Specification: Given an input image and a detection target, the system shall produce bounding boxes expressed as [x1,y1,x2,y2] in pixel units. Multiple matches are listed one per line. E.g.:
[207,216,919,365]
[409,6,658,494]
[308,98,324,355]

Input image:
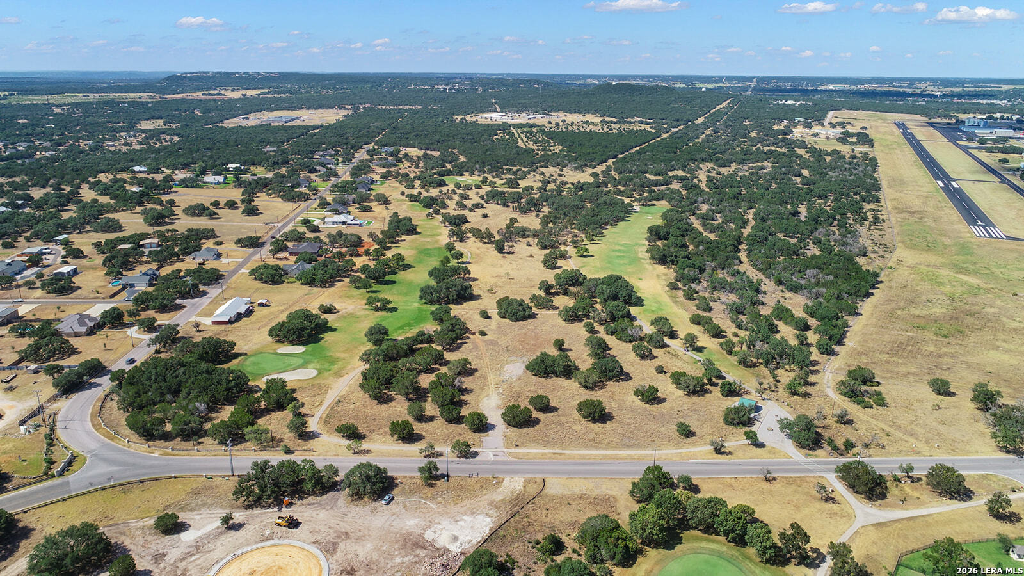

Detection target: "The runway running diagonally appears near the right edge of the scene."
[895,122,1007,239]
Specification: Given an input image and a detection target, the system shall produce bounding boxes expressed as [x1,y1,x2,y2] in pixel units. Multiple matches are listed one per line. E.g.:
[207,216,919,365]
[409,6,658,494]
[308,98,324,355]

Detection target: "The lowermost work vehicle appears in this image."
[277,513,303,529]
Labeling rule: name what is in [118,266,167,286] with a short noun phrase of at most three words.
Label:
house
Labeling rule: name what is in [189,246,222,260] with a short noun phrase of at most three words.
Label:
house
